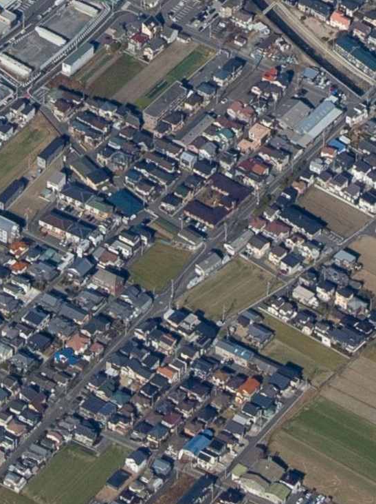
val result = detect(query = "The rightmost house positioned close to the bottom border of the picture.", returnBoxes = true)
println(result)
[280,472,308,503]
